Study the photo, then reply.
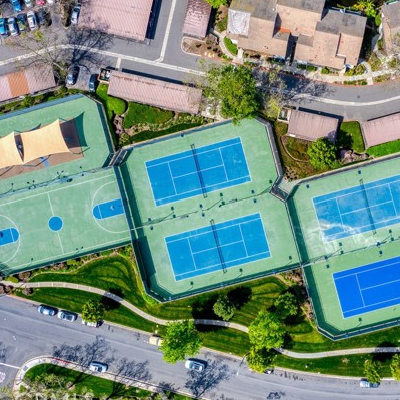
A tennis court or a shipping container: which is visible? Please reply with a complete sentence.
Of the two, only a tennis court appears.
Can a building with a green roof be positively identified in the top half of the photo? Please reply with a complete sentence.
No, I see no building with a green roof in the top half of the photo.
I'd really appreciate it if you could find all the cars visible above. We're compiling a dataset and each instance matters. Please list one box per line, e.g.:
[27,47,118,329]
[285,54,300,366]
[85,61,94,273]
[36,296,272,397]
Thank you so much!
[26,10,39,31]
[7,17,20,38]
[46,0,57,7]
[23,0,34,11]
[89,360,110,372]
[36,304,57,316]
[58,310,76,321]
[67,64,81,86]
[36,8,49,29]
[35,0,46,9]
[88,73,99,94]
[186,358,206,371]
[0,17,10,38]
[359,378,379,388]
[70,6,81,25]
[10,0,24,12]
[16,12,29,34]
